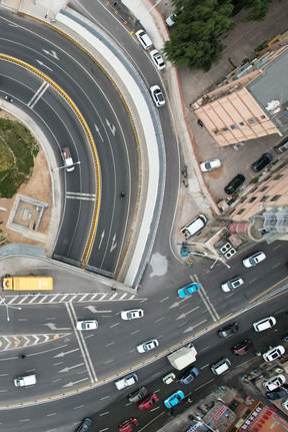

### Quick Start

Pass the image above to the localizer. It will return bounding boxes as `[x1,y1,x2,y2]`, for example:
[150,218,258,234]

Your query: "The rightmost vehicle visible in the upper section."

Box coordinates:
[273,138,288,155]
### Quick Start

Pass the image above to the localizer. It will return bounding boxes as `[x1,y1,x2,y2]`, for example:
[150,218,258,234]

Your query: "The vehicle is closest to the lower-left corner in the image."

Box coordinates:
[13,372,37,386]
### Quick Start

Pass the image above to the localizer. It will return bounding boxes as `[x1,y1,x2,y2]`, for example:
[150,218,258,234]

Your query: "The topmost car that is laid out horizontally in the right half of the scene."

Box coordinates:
[197,158,221,171]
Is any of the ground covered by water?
No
